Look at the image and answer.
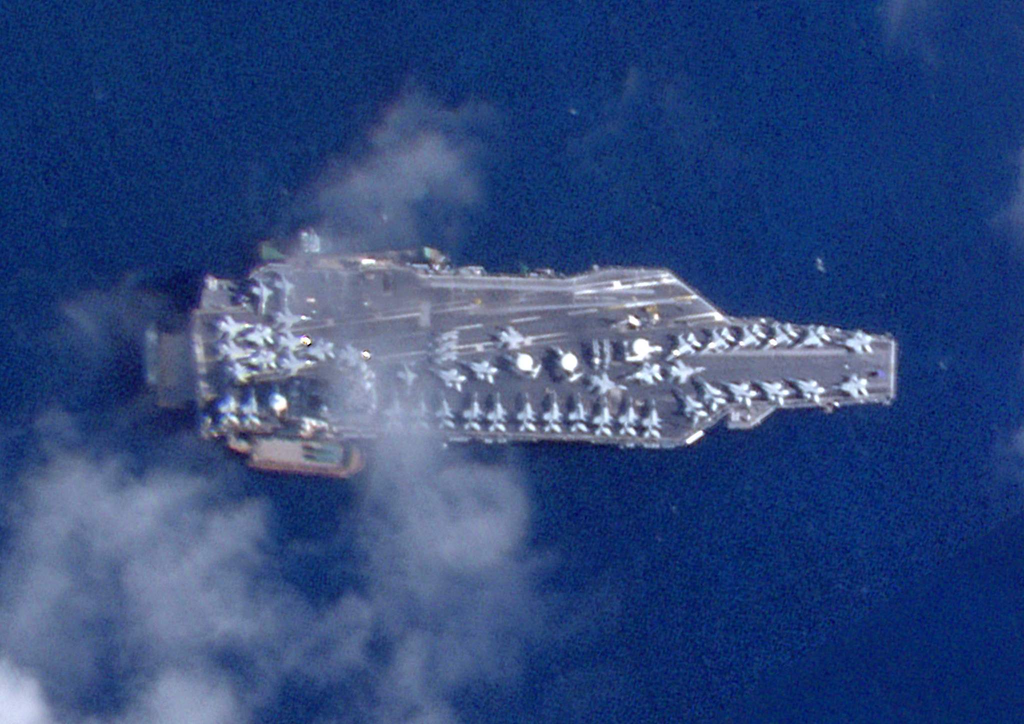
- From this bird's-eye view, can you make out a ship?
Yes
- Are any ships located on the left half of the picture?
Yes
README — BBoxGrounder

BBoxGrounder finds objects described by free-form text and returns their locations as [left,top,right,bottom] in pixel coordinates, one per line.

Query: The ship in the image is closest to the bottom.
[248,433,363,479]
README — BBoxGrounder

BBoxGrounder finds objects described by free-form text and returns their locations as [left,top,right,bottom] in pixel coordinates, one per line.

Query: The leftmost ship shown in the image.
[147,333,196,405]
